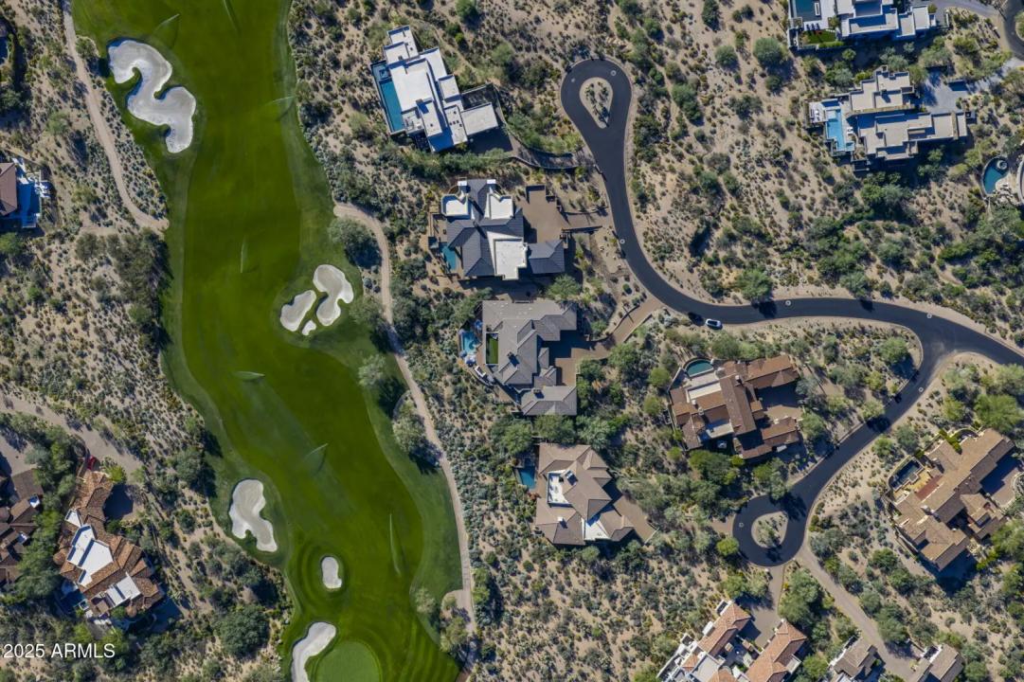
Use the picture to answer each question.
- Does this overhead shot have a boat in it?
No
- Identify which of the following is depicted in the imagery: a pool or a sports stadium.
pool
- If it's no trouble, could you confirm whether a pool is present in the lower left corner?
Yes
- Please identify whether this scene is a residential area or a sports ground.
residential area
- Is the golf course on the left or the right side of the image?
left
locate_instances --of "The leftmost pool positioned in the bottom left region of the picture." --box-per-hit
[58,583,89,610]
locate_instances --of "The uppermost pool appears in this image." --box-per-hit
[792,0,826,24]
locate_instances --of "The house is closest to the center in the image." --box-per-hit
[482,300,577,416]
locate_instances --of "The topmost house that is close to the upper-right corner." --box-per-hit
[822,0,938,50]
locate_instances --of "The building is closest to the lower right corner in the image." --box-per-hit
[901,641,965,682]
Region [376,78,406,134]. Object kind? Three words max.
swimming pool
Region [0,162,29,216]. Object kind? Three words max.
house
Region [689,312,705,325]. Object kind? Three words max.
vehicle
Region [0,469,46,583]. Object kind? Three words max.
house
